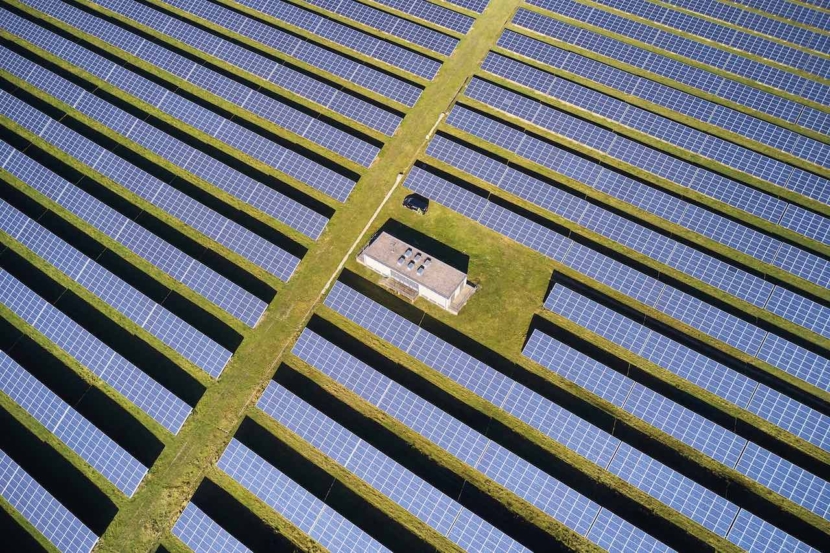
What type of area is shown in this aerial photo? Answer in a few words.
solar farm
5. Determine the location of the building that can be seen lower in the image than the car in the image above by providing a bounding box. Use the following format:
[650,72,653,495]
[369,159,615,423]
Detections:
[364,231,467,307]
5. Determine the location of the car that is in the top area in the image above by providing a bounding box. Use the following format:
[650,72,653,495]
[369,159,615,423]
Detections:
[402,199,428,215]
